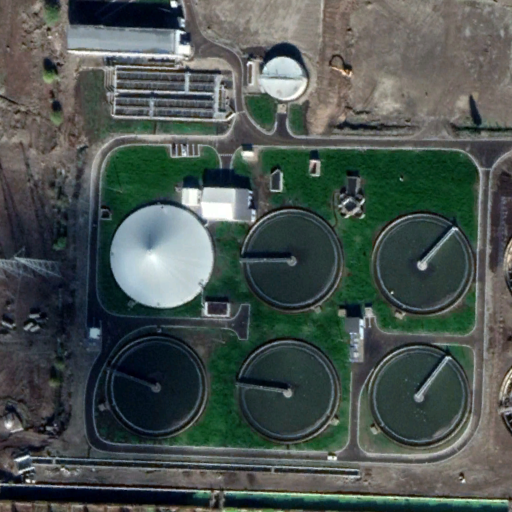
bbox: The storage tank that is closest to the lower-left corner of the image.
[105,337,208,439]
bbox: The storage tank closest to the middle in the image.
[242,209,345,311]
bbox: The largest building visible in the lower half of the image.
[345,317,364,339]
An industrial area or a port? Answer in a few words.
industrial area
